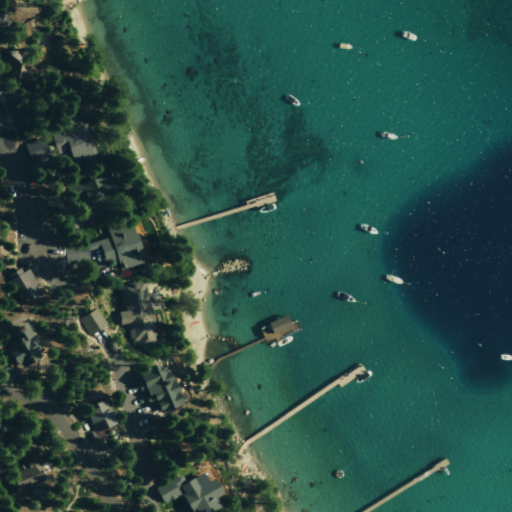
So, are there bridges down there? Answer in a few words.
No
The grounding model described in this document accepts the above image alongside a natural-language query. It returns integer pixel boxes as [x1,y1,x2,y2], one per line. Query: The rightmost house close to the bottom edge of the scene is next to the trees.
[179,462,232,512]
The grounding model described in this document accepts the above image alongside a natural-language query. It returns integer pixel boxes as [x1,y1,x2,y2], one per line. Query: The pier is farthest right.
[359,458,450,512]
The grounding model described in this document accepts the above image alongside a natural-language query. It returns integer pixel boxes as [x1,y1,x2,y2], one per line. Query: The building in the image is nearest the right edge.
[262,315,302,344]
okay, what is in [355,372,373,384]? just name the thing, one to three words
boat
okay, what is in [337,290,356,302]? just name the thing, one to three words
boat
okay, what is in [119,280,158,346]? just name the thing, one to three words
house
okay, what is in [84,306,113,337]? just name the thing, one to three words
building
